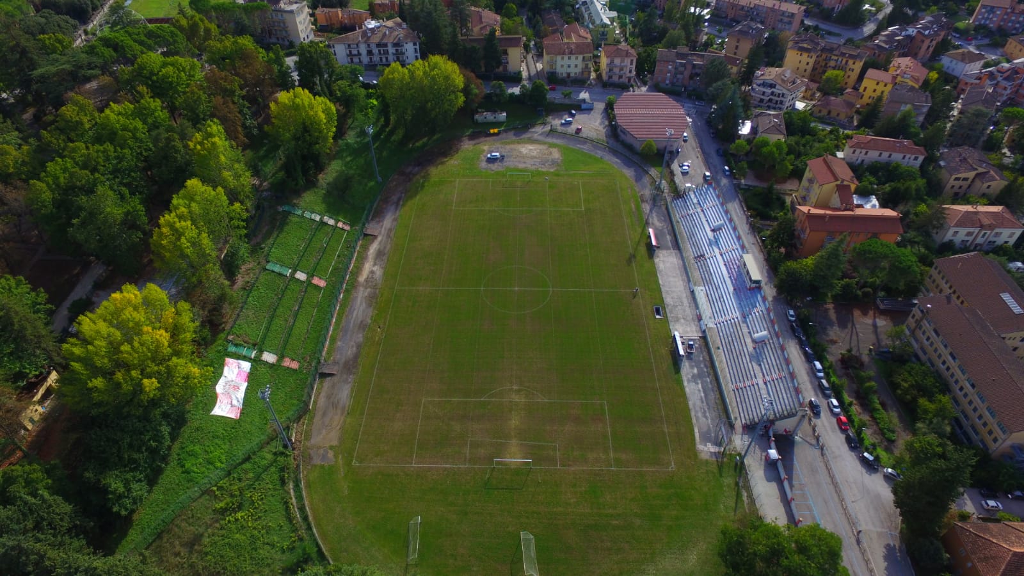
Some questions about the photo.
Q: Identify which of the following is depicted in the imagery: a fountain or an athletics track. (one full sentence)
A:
This aerial view contains an athletics track.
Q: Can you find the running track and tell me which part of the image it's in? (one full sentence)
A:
The running track sits in the center section of the image.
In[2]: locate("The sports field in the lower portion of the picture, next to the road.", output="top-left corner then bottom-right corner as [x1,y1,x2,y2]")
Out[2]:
[298,122,755,576]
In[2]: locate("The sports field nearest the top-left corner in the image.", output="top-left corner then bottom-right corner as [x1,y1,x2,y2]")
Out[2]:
[125,0,215,29]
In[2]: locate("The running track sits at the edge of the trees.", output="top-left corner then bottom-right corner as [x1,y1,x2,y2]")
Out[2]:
[312,123,665,464]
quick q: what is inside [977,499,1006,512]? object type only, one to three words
vehicle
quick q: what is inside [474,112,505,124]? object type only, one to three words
building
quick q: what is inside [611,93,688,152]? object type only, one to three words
building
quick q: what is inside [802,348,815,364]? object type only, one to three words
vehicle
